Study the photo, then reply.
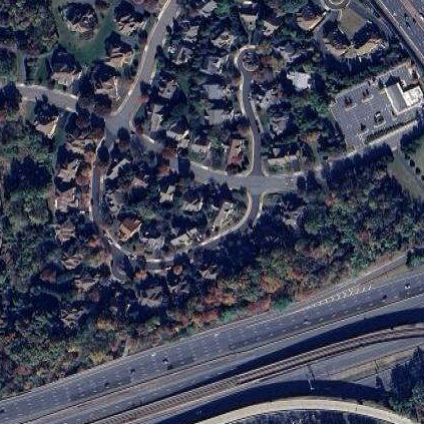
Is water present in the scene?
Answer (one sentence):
No, there's no water in this view.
